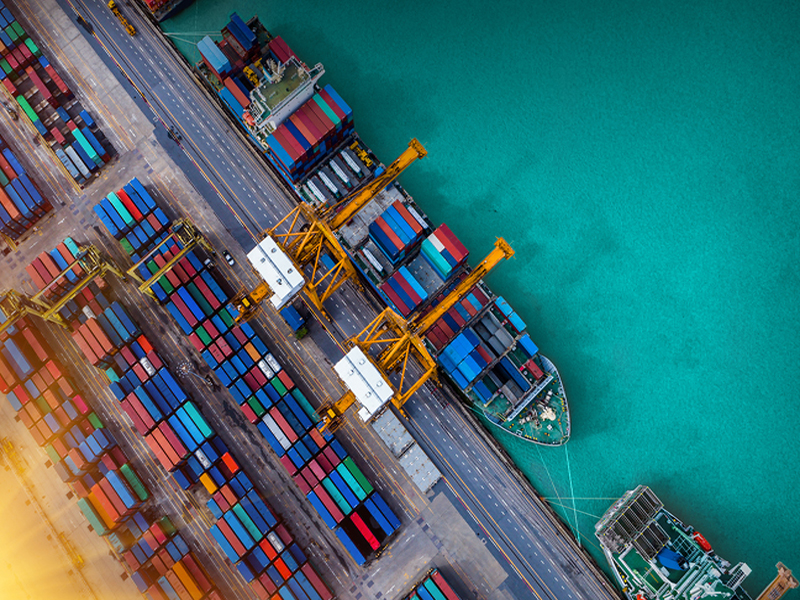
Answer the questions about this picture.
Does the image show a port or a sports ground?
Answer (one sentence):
The picture captures a port.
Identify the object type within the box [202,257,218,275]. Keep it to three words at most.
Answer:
vehicle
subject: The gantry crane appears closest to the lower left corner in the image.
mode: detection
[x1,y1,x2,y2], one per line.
[0,288,46,335]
